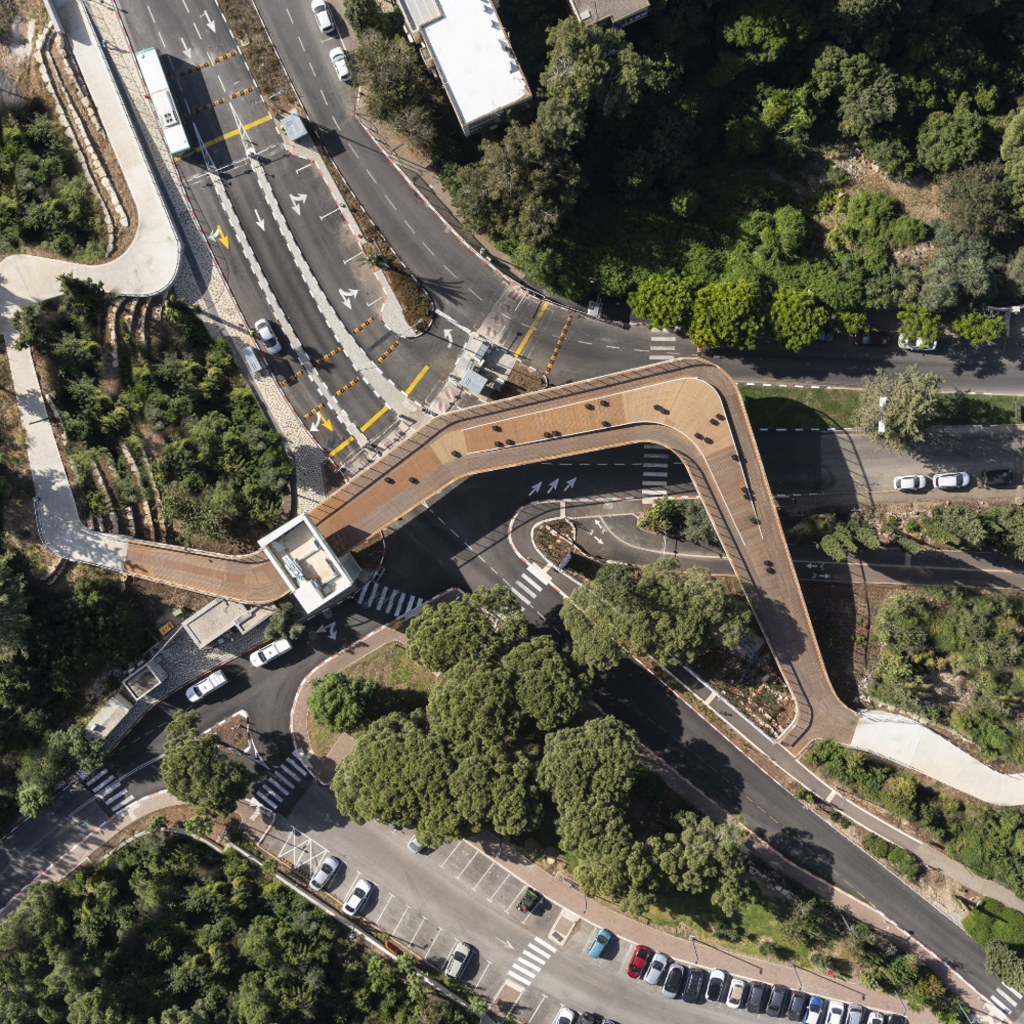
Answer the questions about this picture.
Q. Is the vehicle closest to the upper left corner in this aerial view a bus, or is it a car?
bus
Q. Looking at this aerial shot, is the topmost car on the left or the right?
left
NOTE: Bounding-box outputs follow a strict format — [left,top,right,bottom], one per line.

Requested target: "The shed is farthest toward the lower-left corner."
[87,689,141,737]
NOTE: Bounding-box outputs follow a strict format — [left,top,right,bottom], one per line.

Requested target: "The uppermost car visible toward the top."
[311,0,336,38]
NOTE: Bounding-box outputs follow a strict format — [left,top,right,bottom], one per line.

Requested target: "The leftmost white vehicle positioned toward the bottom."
[185,669,230,702]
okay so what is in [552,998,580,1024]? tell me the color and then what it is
white car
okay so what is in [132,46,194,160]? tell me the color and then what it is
white bus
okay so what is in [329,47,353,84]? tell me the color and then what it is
white car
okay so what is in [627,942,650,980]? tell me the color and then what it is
red car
